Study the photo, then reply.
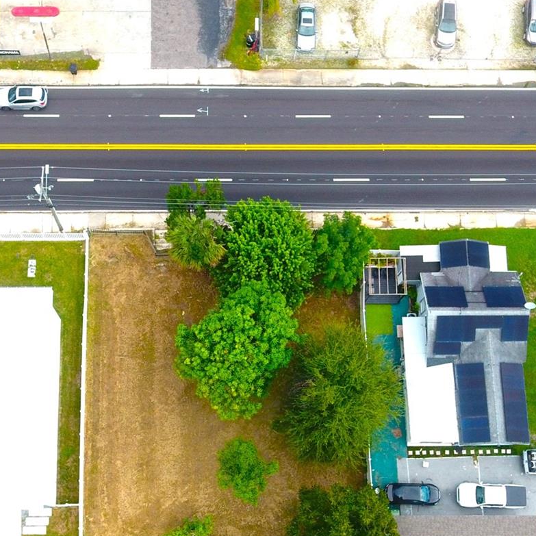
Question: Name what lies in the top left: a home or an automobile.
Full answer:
Visible in the top left is an automobile.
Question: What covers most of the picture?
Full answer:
What you mostly see from above here is paved ground.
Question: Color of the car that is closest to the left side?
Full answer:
The color of the car that is closest to the left side is white.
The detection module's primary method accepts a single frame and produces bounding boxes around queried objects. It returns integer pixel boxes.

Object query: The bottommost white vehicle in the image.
[456,480,531,511]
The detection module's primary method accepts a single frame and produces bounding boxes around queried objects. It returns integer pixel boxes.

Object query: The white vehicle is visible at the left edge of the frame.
[0,82,48,112]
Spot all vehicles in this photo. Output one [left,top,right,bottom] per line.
[432,0,461,51]
[294,2,320,53]
[521,0,536,47]
[386,479,441,508]
[247,34,259,53]
[521,448,536,475]
[456,480,531,511]
[0,82,48,112]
